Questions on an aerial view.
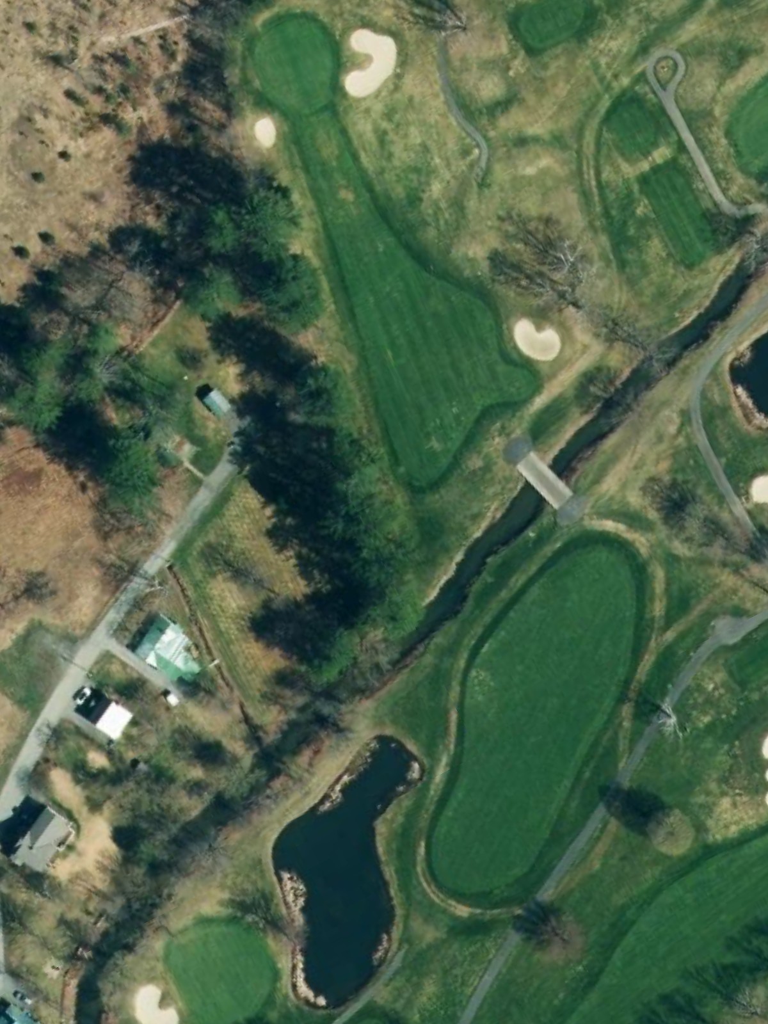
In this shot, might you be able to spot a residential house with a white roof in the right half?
No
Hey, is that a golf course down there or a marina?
golf course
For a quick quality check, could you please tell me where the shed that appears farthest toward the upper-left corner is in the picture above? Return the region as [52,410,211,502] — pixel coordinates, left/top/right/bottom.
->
[203,389,230,418]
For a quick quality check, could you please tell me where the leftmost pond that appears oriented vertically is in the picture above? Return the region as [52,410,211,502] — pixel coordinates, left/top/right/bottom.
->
[273,736,422,1007]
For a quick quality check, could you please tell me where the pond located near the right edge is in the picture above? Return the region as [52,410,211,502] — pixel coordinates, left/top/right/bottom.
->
[730,333,768,432]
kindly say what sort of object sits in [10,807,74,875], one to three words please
house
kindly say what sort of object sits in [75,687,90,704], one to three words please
car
